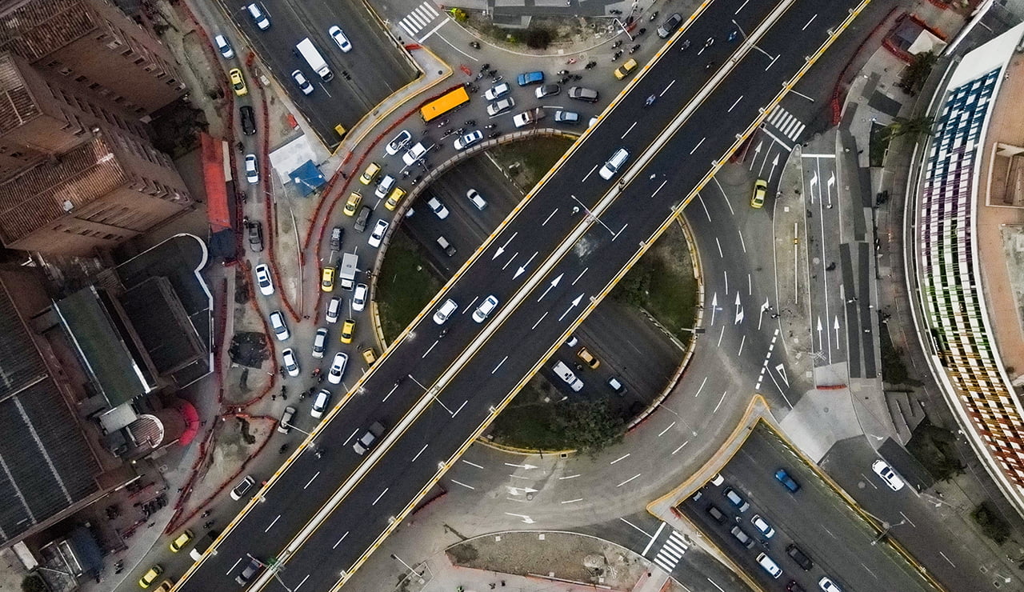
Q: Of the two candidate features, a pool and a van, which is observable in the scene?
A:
van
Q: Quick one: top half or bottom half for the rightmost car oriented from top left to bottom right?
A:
bottom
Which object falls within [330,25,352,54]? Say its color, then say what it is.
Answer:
white car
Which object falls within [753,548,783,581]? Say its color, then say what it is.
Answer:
white van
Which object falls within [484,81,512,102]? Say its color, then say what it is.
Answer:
white car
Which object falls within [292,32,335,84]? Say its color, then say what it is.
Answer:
white truck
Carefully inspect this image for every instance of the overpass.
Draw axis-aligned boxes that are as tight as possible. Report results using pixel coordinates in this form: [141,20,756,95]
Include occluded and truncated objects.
[164,0,871,592]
